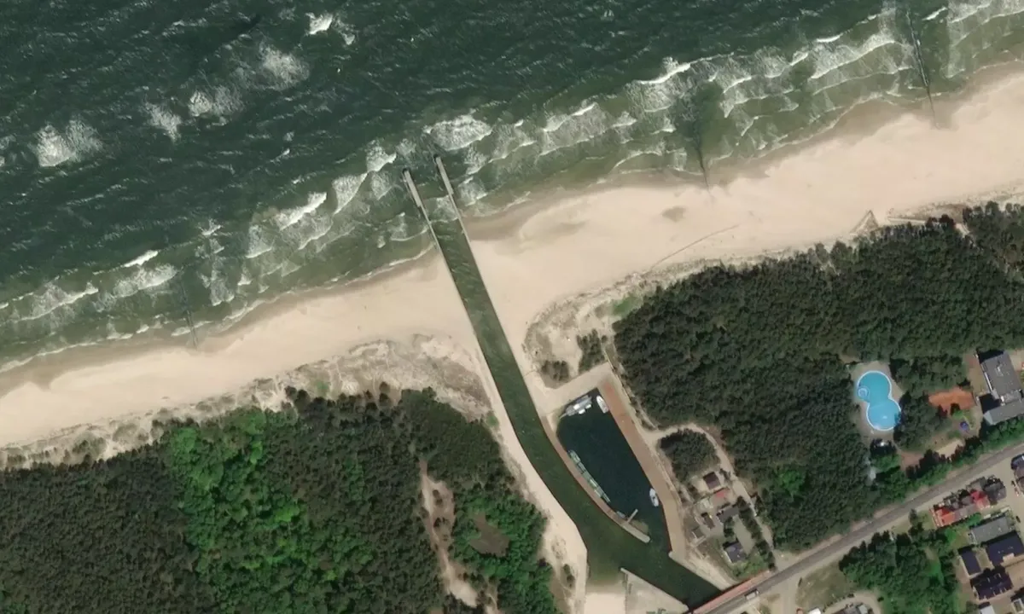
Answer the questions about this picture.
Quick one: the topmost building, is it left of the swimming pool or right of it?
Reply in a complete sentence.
The swimming pool has the topmost building on its right side.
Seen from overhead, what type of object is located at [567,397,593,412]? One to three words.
boat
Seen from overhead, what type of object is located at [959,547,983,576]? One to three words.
house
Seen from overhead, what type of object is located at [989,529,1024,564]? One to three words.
house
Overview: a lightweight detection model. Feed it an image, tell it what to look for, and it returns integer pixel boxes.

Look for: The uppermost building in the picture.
[984,355,1024,431]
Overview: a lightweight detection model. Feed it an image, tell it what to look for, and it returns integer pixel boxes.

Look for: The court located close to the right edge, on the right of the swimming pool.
[928,388,976,413]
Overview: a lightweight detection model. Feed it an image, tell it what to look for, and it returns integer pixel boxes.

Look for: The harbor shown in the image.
[541,364,686,551]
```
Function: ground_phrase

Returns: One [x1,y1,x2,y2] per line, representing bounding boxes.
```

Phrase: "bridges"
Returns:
[688,589,738,614]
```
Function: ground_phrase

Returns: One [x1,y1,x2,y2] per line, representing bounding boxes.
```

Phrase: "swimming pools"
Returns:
[857,370,902,431]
